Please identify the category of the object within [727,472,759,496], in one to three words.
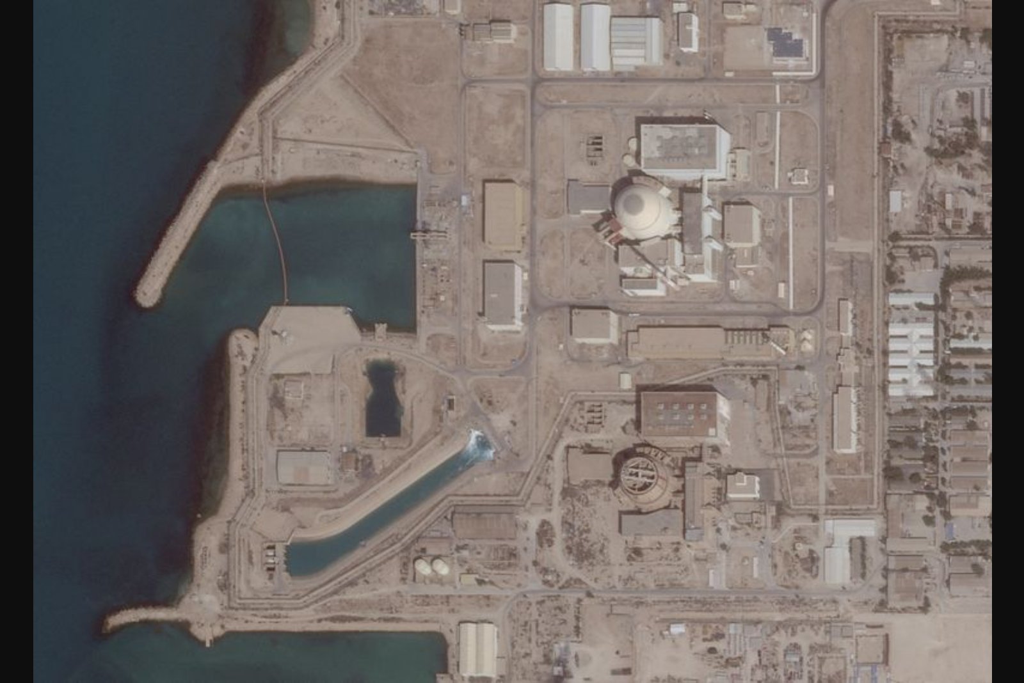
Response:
building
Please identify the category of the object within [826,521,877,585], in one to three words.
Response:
building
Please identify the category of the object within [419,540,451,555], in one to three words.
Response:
shed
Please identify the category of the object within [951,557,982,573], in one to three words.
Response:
house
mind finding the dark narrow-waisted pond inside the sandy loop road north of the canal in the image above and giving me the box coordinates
[365,360,403,448]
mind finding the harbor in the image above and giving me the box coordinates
[259,306,363,373]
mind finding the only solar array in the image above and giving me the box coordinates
[767,27,802,56]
